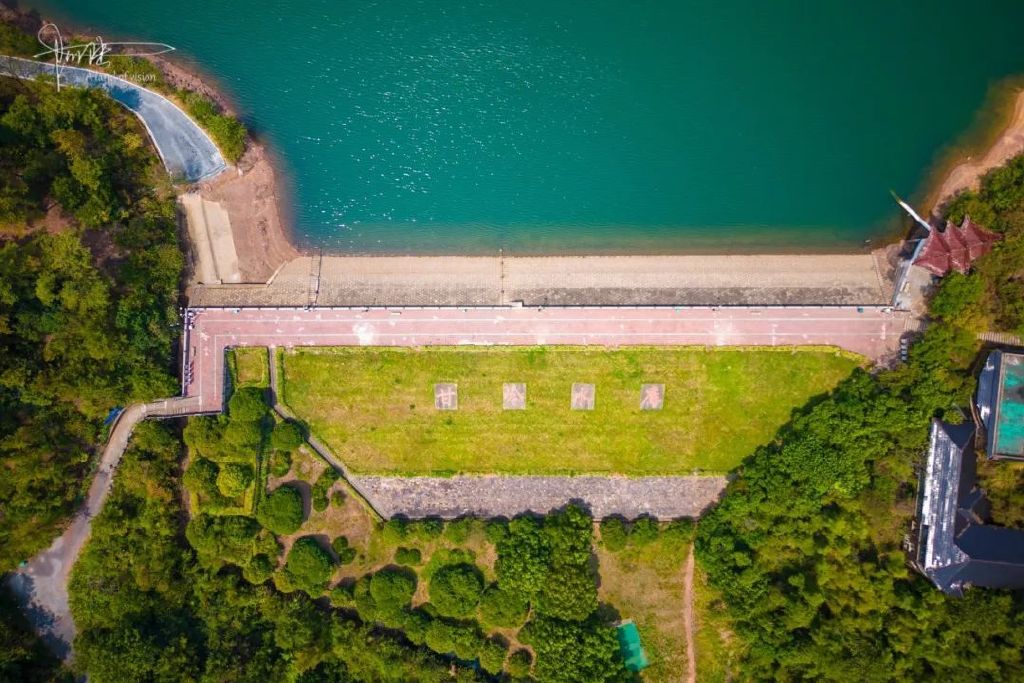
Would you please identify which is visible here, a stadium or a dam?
dam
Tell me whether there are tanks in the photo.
No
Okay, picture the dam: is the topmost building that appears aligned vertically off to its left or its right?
on its right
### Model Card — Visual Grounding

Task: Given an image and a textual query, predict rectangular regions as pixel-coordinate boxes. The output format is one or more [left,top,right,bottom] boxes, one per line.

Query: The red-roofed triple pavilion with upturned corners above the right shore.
[906,213,1002,279]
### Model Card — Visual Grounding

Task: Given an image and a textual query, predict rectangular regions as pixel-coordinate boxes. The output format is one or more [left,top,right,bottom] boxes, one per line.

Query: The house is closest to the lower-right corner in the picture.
[917,419,1024,597]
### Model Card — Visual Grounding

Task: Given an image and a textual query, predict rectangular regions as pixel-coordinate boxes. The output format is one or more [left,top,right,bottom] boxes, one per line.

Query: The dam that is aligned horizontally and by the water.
[156,240,911,520]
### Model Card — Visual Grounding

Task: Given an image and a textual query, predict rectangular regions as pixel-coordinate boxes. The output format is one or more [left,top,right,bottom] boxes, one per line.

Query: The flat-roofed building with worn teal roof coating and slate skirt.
[975,348,1024,461]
